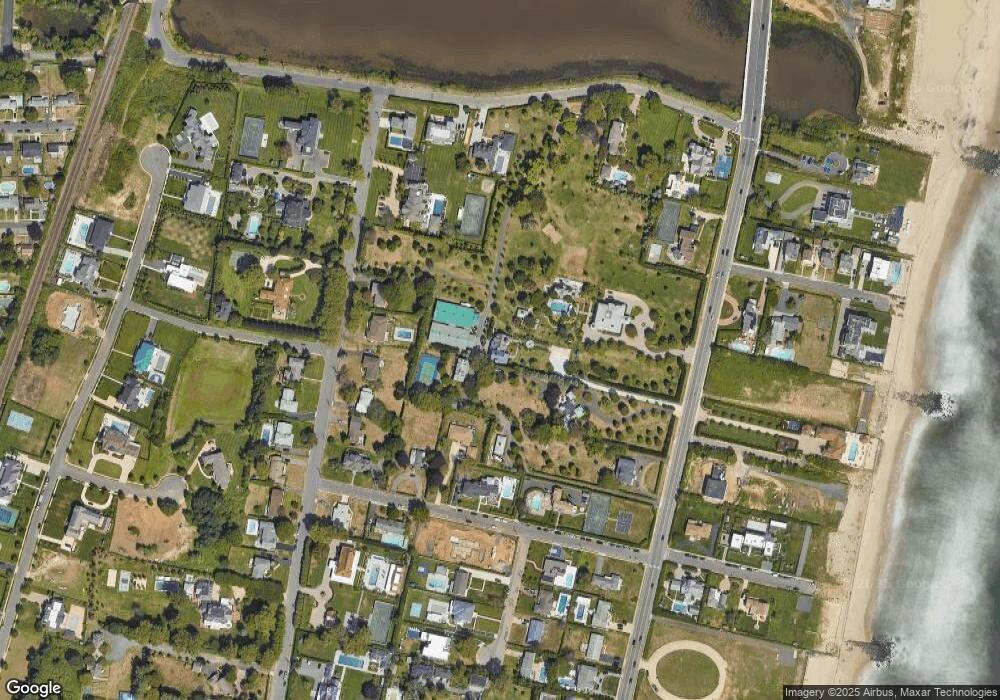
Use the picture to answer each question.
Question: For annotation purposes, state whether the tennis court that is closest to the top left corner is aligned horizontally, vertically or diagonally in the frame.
vertically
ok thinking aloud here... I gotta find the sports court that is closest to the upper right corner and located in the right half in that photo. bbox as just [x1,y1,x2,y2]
[823,151,849,176]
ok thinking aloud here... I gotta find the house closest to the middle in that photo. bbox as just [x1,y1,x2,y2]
[485,329,510,363]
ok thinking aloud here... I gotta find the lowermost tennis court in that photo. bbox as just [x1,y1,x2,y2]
[370,602,395,641]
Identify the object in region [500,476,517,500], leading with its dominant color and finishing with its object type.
white swimming pool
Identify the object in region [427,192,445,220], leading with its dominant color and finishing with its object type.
white swimming pool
